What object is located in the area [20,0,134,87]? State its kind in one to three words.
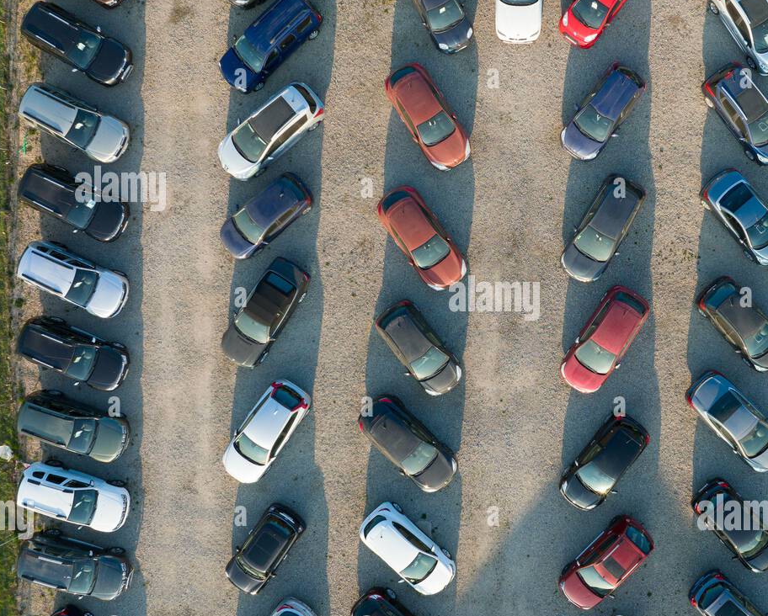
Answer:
car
